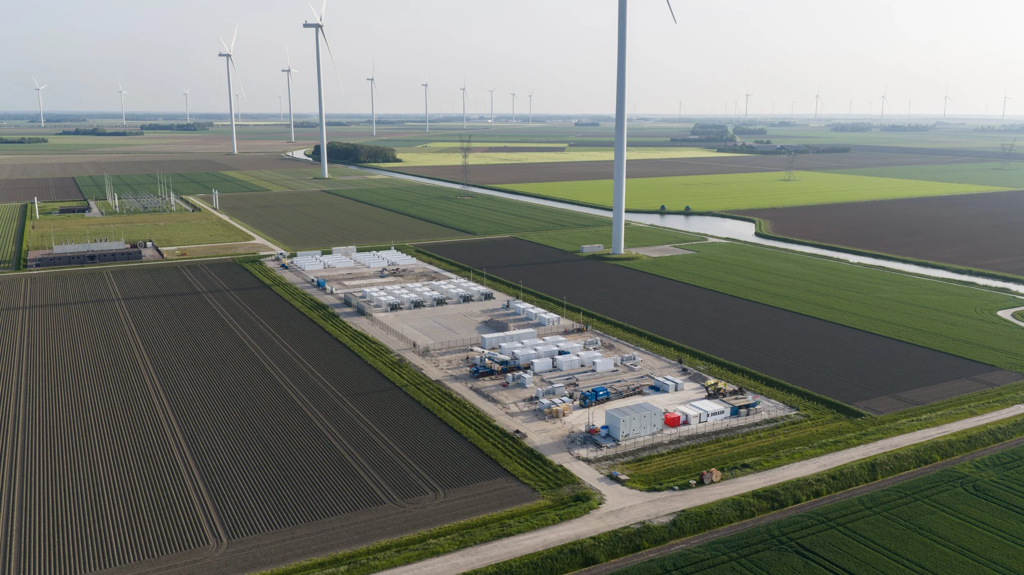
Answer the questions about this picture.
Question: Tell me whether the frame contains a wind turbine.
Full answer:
Yes, a wind turbine is visible in the scene.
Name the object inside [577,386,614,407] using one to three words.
truck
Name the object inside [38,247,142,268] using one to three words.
building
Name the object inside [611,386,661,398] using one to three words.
vehicle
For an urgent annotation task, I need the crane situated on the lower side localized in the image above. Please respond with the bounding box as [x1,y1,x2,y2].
[469,346,522,377]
